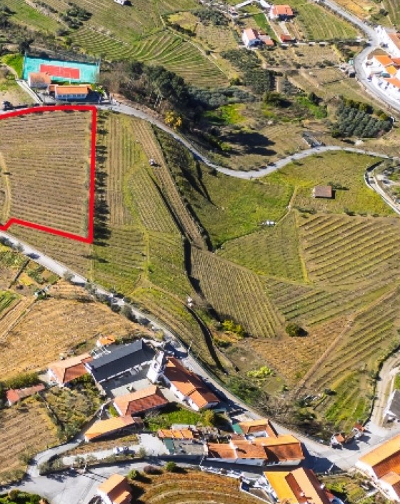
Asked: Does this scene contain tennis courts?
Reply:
Yes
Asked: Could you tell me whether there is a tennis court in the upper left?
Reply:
Yes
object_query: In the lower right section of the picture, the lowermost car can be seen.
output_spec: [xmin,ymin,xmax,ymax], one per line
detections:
[311,440,328,454]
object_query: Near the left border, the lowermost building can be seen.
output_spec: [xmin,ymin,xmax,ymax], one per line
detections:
[6,380,47,410]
